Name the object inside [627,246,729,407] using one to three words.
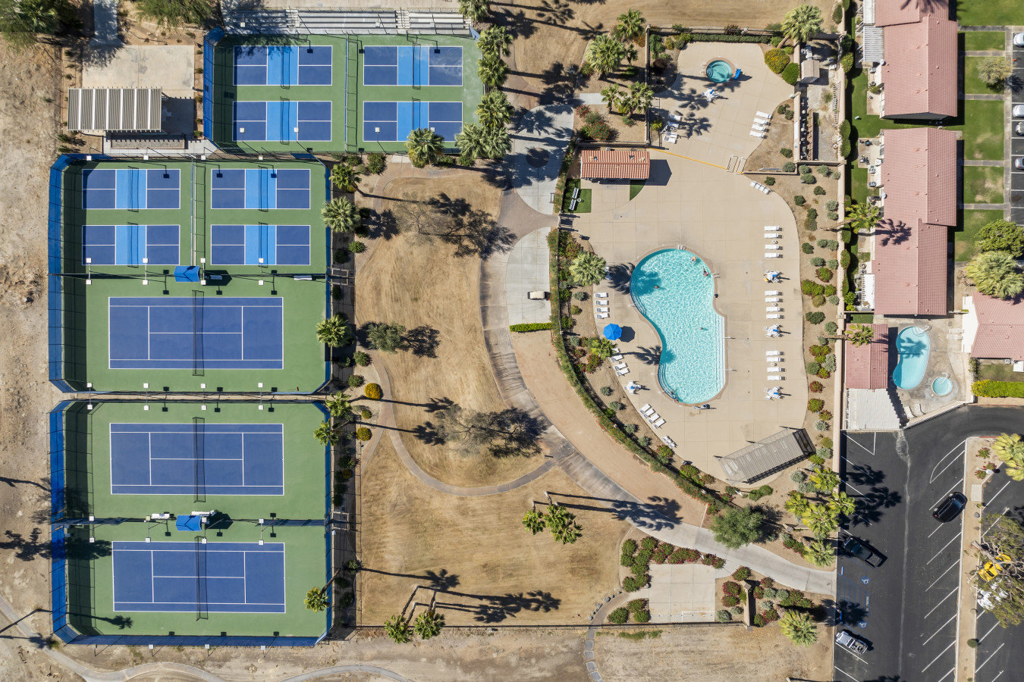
swimming pool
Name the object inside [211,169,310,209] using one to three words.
sports court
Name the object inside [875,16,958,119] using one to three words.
house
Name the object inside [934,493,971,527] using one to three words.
car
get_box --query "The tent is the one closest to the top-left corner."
[174,266,206,283]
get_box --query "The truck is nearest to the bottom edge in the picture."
[835,629,874,661]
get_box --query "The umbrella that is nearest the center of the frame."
[604,324,621,340]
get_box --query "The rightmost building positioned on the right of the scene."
[962,292,1024,359]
